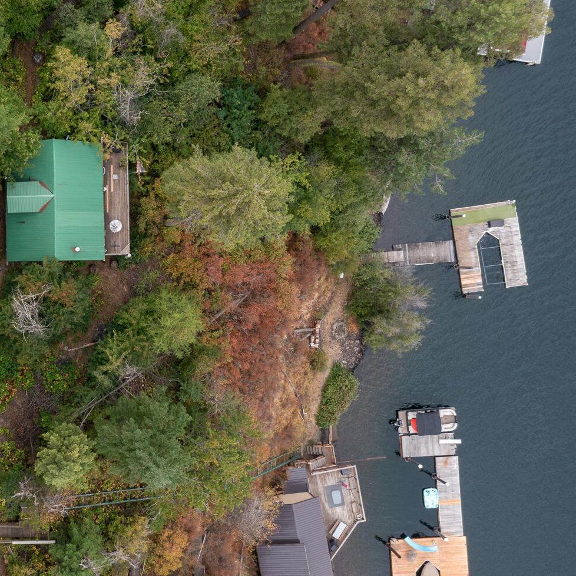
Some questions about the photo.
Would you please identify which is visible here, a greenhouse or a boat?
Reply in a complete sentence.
The one in the frame is a boat.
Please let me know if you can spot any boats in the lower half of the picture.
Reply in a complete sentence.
Yes, a boat is visible in the lower half of the picture.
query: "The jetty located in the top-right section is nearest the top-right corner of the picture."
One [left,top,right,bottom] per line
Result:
[473,0,550,65]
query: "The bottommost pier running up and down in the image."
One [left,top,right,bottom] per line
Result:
[433,455,464,535]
